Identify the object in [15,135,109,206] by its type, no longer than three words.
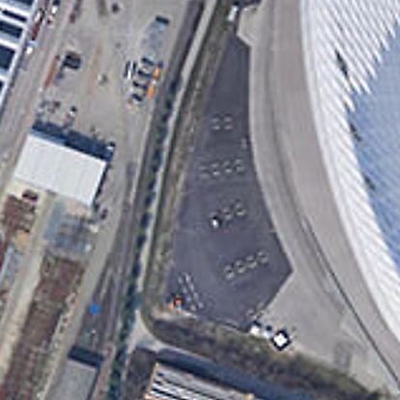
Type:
building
